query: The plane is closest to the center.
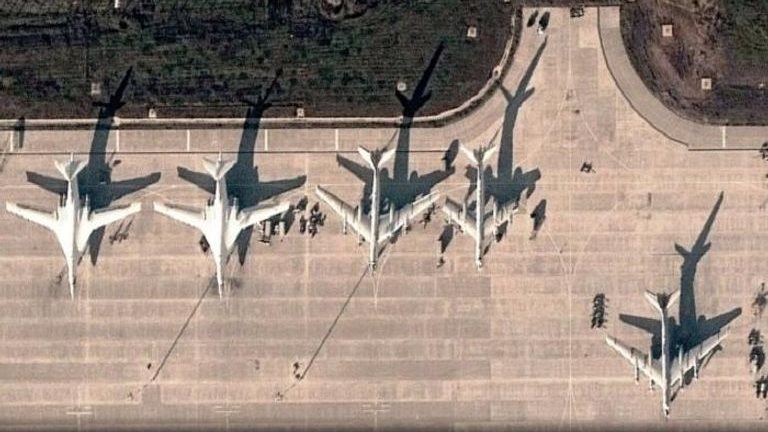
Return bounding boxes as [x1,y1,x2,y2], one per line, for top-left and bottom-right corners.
[315,142,438,277]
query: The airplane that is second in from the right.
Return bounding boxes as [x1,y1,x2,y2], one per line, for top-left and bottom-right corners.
[442,142,519,272]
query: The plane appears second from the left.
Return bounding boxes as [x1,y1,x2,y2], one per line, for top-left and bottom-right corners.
[154,152,286,300]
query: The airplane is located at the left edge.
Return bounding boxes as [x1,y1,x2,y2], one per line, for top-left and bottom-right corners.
[5,151,137,298]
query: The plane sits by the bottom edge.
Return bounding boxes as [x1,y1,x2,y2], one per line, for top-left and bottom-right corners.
[603,287,726,418]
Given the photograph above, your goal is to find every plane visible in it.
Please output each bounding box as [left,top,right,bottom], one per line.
[603,287,726,418]
[442,142,519,272]
[154,152,286,300]
[315,142,438,277]
[5,151,137,298]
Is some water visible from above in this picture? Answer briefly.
No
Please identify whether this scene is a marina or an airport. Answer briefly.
airport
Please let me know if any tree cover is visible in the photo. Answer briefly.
No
